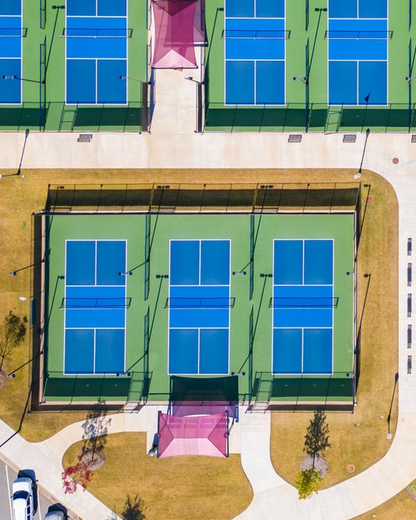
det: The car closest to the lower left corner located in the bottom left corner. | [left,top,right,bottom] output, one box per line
[9,476,36,520]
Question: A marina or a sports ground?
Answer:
sports ground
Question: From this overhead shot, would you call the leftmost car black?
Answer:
No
